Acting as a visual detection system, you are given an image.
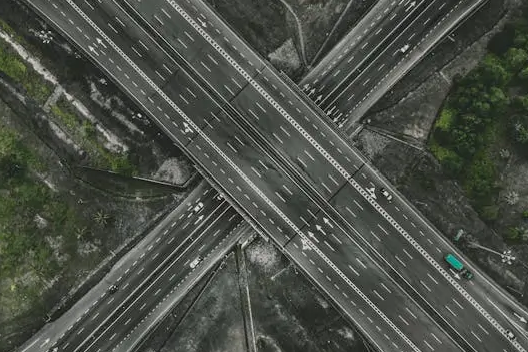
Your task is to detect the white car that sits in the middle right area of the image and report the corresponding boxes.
[379,186,394,201]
